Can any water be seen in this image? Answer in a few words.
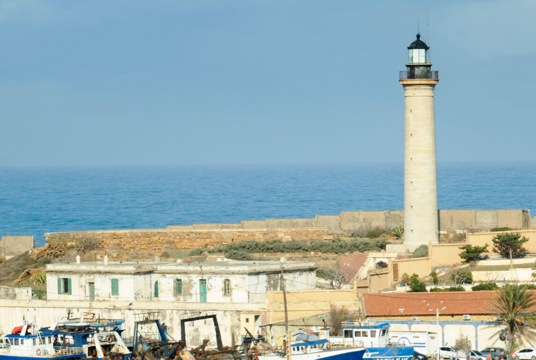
Yes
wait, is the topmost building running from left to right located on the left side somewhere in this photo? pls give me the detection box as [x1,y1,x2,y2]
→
[43,256,332,302]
